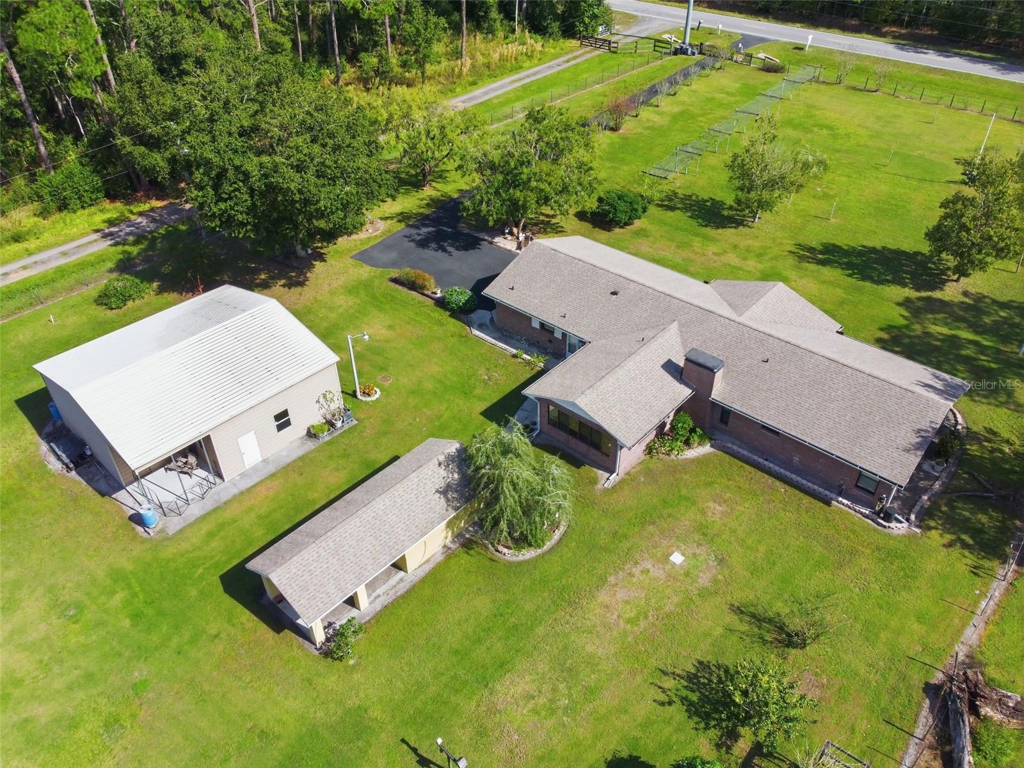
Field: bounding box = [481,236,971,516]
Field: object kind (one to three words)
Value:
house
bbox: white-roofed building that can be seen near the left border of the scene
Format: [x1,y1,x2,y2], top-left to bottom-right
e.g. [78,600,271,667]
[30,282,348,515]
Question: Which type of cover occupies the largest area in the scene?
grass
